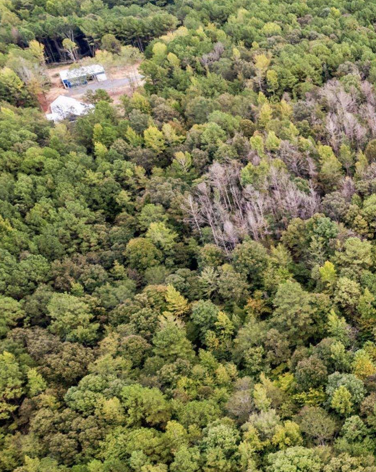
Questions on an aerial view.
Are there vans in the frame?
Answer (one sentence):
No, the photo shows no van.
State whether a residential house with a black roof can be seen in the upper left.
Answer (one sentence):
No, there is no residential house with a black roof in the upper left.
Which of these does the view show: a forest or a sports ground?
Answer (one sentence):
The picture captures a forest.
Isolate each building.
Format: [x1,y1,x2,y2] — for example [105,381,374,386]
[44,96,94,127]
[61,61,108,89]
